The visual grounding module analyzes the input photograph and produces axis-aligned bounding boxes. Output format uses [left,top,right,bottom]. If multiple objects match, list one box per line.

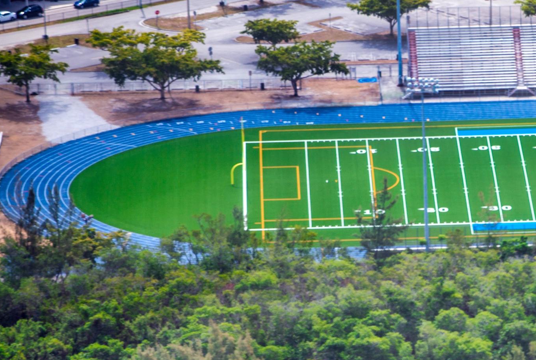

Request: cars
[0,12,16,21]
[17,4,43,17]
[73,0,100,7]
